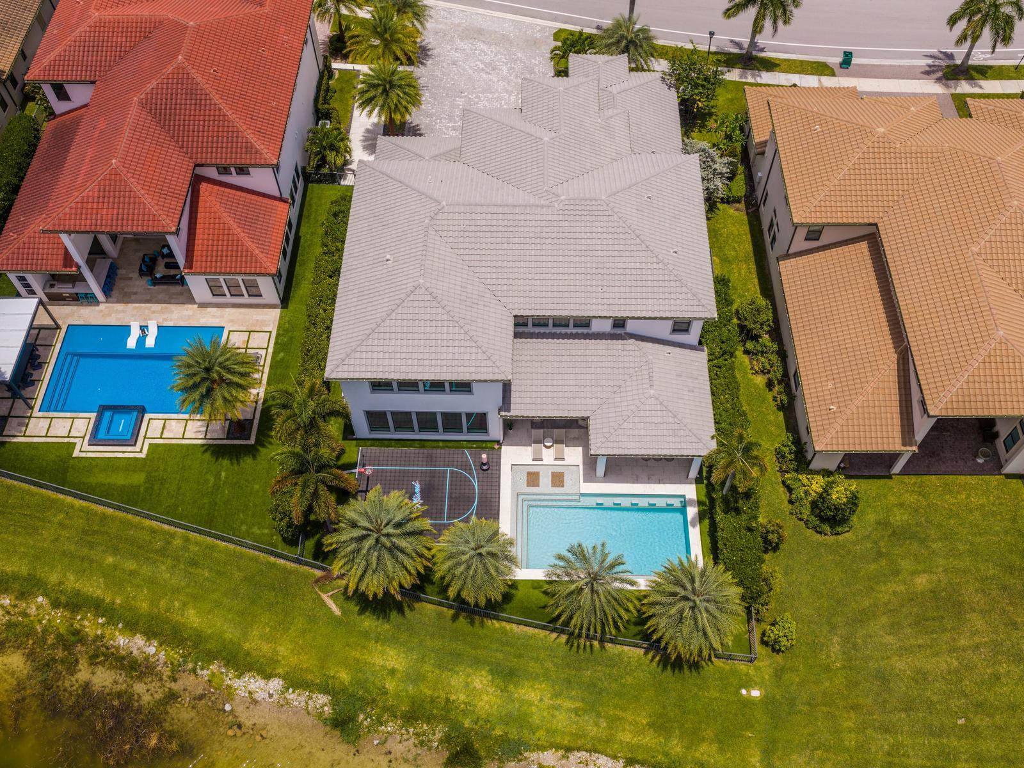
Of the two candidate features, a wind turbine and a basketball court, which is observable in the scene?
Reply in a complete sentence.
I can see a basketball court in this picture.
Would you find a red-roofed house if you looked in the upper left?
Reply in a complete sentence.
Yes, you'll find a red-roofed house in the upper left.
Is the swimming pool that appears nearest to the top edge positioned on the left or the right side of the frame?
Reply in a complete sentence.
The swimming pool that appears nearest to the top edge is on the left side of the image.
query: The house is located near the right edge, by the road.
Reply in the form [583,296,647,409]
[744,85,1024,474]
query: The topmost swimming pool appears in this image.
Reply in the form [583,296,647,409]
[38,324,227,414]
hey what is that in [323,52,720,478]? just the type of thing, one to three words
house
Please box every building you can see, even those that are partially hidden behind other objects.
[323,52,720,478]
[744,85,1024,474]
[0,0,335,305]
